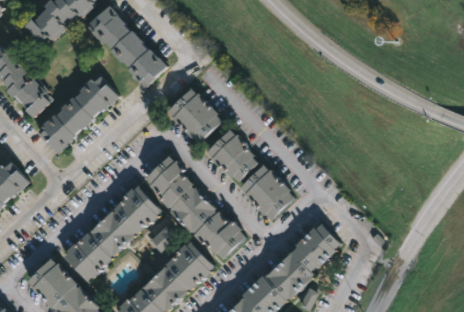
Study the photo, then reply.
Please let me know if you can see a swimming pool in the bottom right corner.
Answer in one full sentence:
No, I see no swimming pool in the bottom right corner.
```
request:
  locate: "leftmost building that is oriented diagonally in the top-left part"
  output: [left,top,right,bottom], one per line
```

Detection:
[0,50,54,119]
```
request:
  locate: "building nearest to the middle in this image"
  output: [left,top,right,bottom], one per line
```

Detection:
[210,130,262,184]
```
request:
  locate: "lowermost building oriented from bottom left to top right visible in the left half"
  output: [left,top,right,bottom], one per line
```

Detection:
[122,244,216,312]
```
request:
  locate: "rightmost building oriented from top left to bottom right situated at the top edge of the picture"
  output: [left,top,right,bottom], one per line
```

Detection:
[93,8,170,88]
